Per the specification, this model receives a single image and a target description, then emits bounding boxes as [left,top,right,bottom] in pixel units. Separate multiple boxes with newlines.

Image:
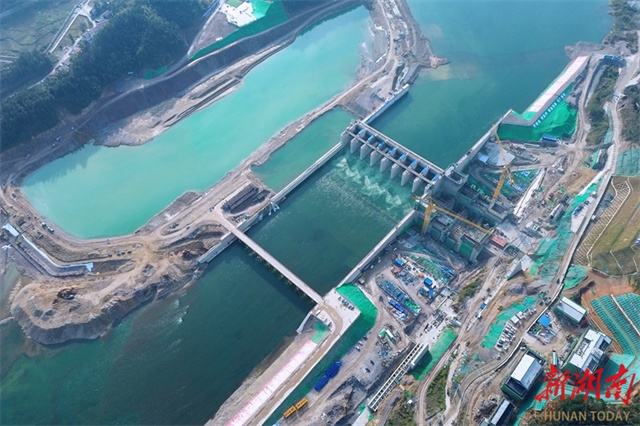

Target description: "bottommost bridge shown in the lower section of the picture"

[222,212,326,307]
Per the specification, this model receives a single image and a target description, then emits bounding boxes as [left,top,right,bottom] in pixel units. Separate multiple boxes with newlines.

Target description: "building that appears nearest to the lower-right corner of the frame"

[561,329,612,379]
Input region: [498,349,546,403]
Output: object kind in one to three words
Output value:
building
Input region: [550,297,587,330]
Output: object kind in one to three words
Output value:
building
